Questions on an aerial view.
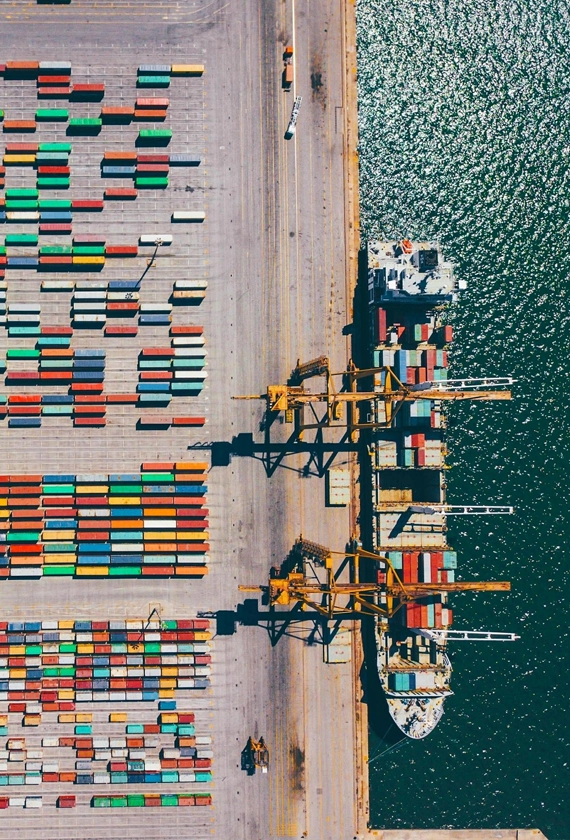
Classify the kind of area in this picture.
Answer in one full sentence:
This looks like a port.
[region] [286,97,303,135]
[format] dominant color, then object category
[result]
white vehicle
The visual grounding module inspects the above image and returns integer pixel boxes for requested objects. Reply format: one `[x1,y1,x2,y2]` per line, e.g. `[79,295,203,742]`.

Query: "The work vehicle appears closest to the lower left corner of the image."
[248,733,268,773]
